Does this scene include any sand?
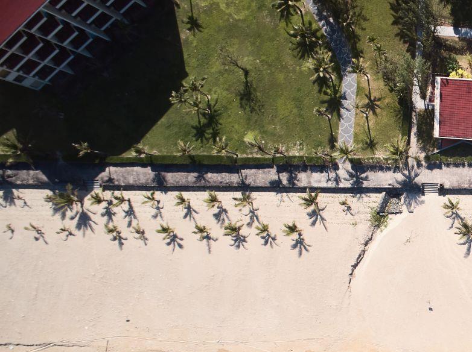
Yes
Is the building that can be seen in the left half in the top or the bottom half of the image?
top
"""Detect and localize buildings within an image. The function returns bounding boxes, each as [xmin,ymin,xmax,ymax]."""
[426,73,472,155]
[0,0,146,92]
